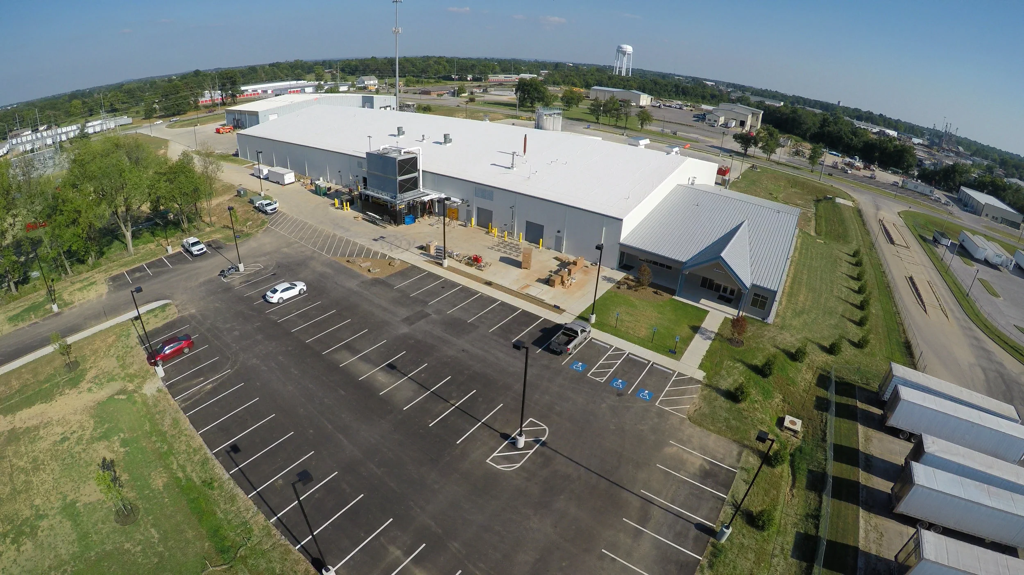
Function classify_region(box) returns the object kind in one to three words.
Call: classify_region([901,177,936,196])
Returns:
building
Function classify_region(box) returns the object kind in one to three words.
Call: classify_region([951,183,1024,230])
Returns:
building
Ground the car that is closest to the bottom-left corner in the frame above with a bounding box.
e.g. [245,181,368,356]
[144,335,193,366]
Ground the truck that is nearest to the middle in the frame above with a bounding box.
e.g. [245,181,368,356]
[550,319,596,357]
